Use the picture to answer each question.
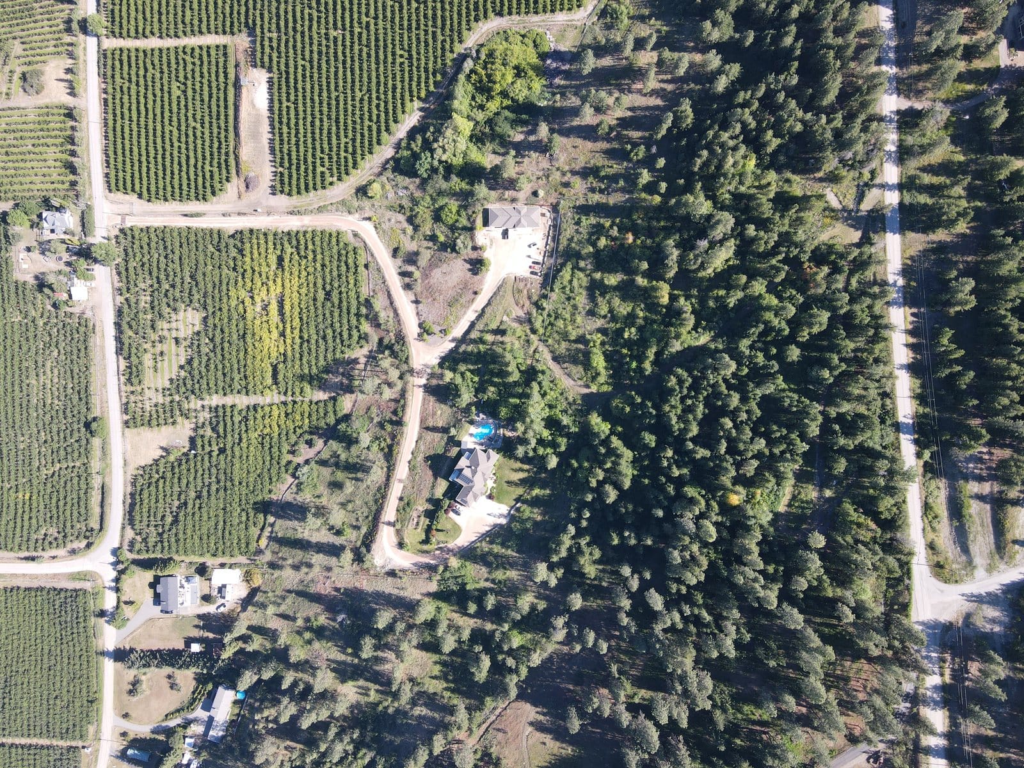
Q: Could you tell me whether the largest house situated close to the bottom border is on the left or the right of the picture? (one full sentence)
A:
You can find the largest house situated close to the bottom border on the left side of the picture.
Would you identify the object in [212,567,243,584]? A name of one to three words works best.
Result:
building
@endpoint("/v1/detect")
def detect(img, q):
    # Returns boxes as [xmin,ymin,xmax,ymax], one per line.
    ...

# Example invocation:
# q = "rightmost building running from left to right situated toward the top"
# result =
[489,207,540,228]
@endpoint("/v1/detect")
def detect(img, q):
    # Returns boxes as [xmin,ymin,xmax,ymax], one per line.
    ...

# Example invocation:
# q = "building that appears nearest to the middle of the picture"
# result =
[449,447,500,507]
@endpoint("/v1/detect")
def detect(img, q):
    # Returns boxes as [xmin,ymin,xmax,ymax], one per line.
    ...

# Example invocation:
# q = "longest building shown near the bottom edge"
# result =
[207,682,238,742]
